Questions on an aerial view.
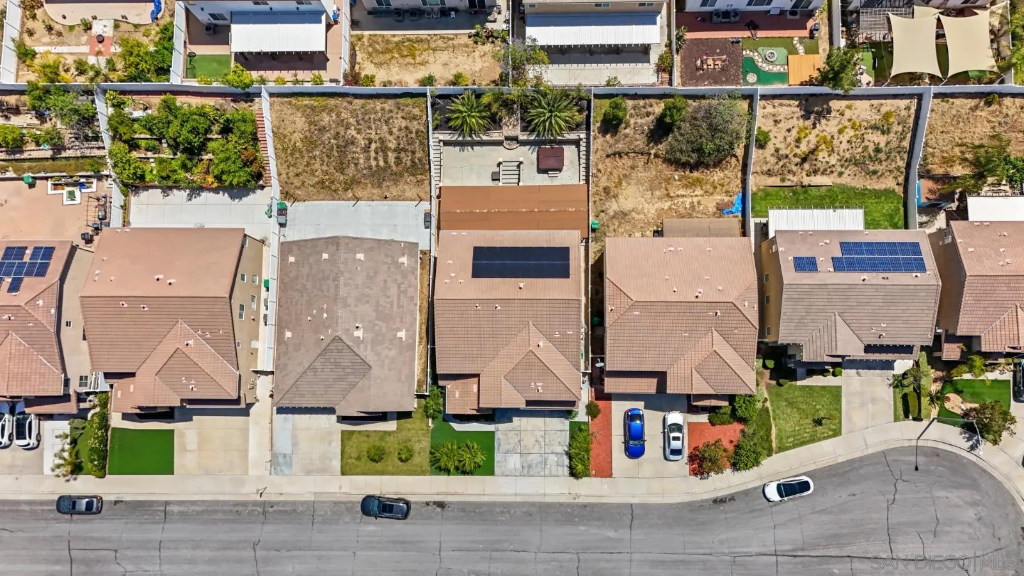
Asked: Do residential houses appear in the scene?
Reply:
Yes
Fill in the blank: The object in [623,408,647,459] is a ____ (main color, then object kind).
blue car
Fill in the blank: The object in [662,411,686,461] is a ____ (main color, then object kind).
white car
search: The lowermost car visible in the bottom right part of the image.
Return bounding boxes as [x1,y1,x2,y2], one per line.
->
[761,474,814,503]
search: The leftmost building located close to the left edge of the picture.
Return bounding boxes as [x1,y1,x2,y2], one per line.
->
[0,241,99,413]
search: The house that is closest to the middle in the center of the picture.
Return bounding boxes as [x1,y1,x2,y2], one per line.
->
[431,230,582,415]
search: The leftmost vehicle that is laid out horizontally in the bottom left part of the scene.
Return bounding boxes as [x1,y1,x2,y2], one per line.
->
[57,493,108,517]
